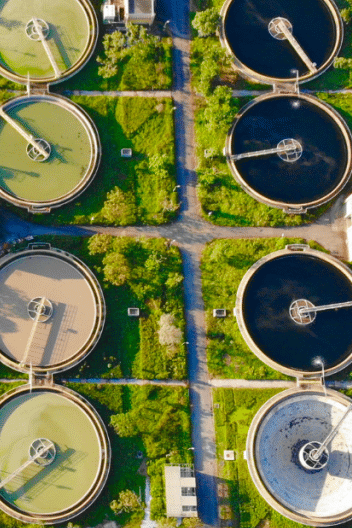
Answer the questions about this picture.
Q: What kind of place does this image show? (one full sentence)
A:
This looks like an industrial area.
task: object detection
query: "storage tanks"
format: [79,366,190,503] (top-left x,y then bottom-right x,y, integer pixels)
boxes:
[216,0,342,107]
[240,374,352,525]
[0,92,103,218]
[230,239,352,395]
[0,0,99,98]
[0,372,111,523]
[220,92,352,217]
[0,238,107,395]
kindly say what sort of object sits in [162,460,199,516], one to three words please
building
